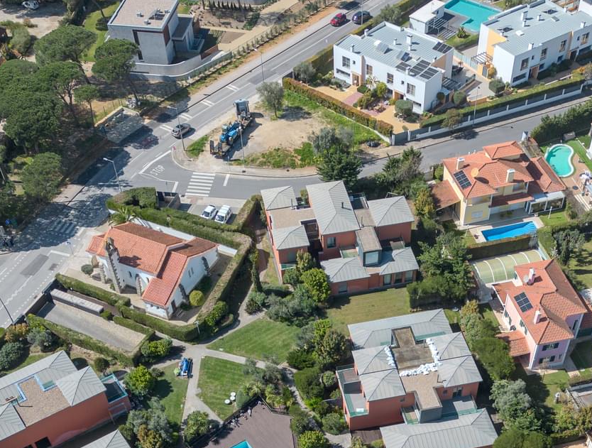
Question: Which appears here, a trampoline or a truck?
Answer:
truck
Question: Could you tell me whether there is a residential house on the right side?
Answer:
Yes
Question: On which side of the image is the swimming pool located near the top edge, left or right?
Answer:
right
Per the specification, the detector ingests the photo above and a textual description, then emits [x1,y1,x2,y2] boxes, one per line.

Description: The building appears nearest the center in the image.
[261,181,419,297]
